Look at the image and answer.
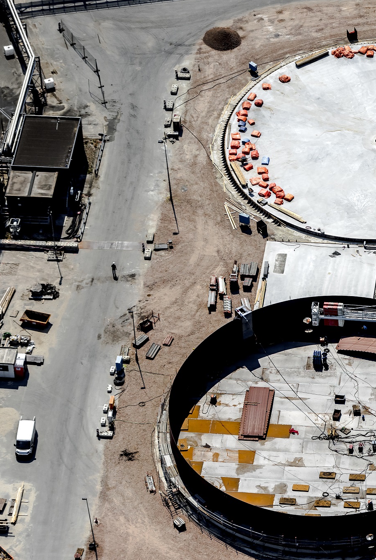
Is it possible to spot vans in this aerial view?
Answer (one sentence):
Yes, this view includes a van.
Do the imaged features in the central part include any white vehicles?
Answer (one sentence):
No, no white vehicle can be made out in the central part.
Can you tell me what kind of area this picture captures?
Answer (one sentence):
This looks like an industrial area.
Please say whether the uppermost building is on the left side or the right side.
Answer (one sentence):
You can find the uppermost building on the left side of the picture.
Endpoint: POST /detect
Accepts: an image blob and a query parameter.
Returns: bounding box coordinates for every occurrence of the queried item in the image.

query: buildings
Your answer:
[4,113,84,232]
[0,346,18,381]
